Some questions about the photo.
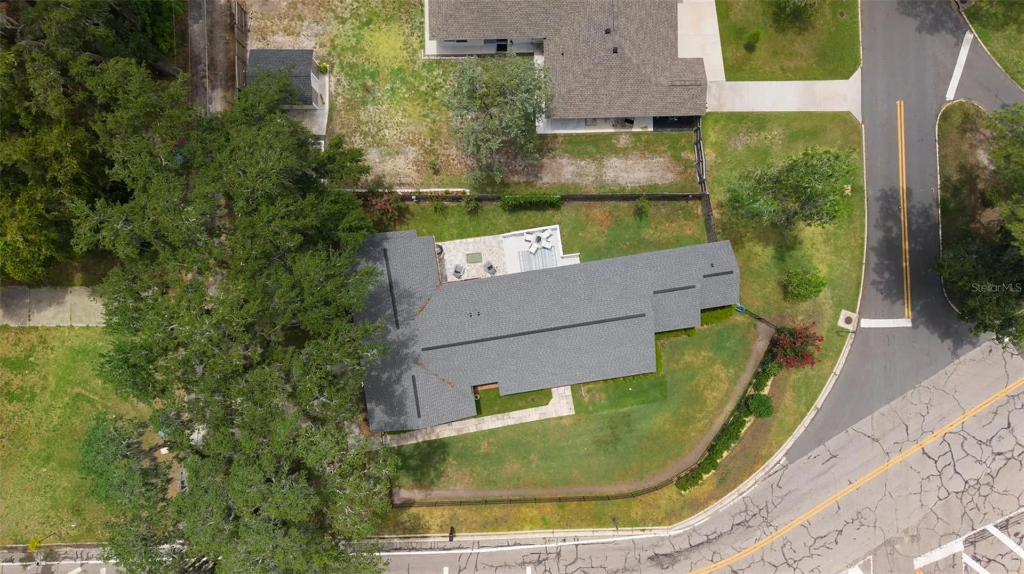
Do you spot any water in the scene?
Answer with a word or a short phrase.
No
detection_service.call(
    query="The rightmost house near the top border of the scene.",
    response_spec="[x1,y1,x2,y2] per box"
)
[427,0,707,120]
